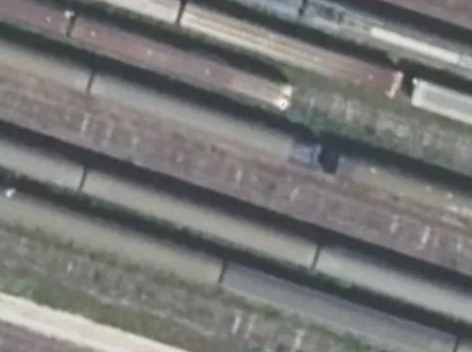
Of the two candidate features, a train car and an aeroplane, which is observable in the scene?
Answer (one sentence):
There is a train car in the scene.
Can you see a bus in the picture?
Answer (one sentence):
Yes, the image includes a bus.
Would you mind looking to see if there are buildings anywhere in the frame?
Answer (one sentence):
No, there's no building here.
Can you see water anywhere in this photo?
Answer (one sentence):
No, water can't be seen anywhere here.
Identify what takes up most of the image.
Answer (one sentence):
The scene is dominated by paved ground.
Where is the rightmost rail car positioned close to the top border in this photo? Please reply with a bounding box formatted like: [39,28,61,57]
[299,0,472,81]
